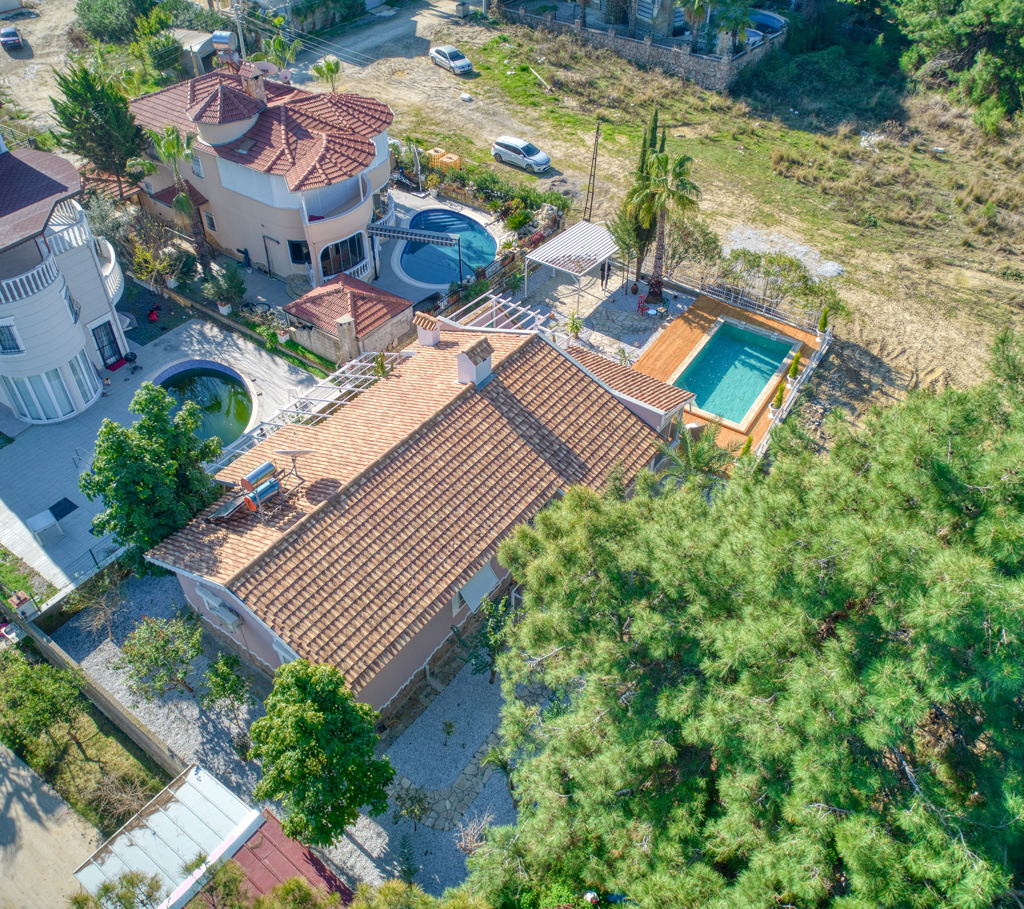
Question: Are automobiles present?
Yes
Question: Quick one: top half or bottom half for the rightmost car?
top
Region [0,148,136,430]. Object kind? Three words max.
house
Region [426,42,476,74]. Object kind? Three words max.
car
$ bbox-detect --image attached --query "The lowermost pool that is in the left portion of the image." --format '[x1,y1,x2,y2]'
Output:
[83,355,263,470]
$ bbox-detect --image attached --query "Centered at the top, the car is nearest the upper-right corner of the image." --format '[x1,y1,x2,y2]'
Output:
[487,131,555,174]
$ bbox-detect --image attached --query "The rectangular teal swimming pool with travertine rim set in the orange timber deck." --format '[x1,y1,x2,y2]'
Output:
[655,317,801,431]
